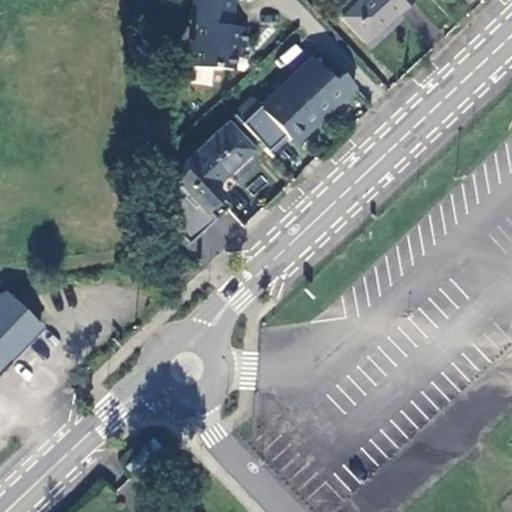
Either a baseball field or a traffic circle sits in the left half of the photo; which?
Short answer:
traffic circle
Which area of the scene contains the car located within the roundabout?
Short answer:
center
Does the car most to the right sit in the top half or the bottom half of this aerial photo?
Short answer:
bottom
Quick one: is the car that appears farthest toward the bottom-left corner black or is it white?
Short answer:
white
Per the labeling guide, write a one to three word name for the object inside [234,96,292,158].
house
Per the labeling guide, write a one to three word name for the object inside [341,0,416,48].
house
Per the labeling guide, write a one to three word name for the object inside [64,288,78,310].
vehicle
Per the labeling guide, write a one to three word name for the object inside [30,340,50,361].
car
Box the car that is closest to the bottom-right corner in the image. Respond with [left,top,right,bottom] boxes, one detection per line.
[349,460,368,480]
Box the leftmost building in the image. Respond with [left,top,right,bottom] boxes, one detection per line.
[0,291,46,374]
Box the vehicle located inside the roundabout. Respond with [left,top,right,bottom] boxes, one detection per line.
[221,278,242,298]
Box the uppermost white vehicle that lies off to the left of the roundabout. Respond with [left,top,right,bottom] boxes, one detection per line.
[42,330,60,350]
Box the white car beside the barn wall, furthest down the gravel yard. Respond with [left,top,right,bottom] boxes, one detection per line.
[14,362,34,382]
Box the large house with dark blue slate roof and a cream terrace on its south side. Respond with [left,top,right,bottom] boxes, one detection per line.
[192,0,248,67]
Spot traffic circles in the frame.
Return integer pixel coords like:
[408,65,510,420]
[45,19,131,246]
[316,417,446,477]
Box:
[95,271,259,458]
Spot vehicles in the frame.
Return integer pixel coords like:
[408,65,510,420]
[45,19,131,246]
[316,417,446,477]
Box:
[273,44,300,70]
[52,294,64,314]
[30,340,50,361]
[221,278,242,298]
[42,330,60,350]
[349,460,368,480]
[64,288,78,310]
[260,12,280,22]
[14,362,34,382]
